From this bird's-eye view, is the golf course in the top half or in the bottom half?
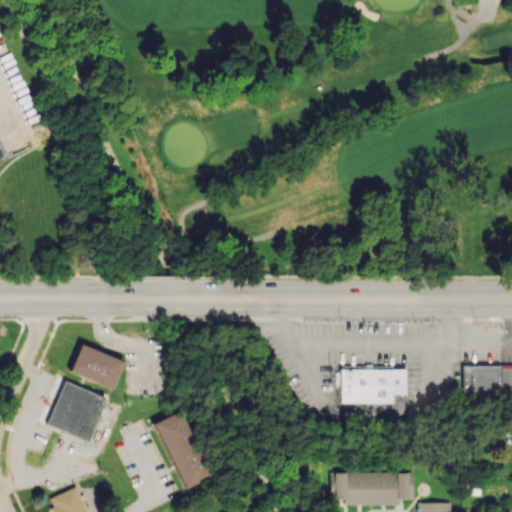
top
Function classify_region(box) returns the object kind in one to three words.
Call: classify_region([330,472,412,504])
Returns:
house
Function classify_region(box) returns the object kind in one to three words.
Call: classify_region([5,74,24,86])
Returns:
vehicle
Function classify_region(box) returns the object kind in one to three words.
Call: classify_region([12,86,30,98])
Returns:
vehicle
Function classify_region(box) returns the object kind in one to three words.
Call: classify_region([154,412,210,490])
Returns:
building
